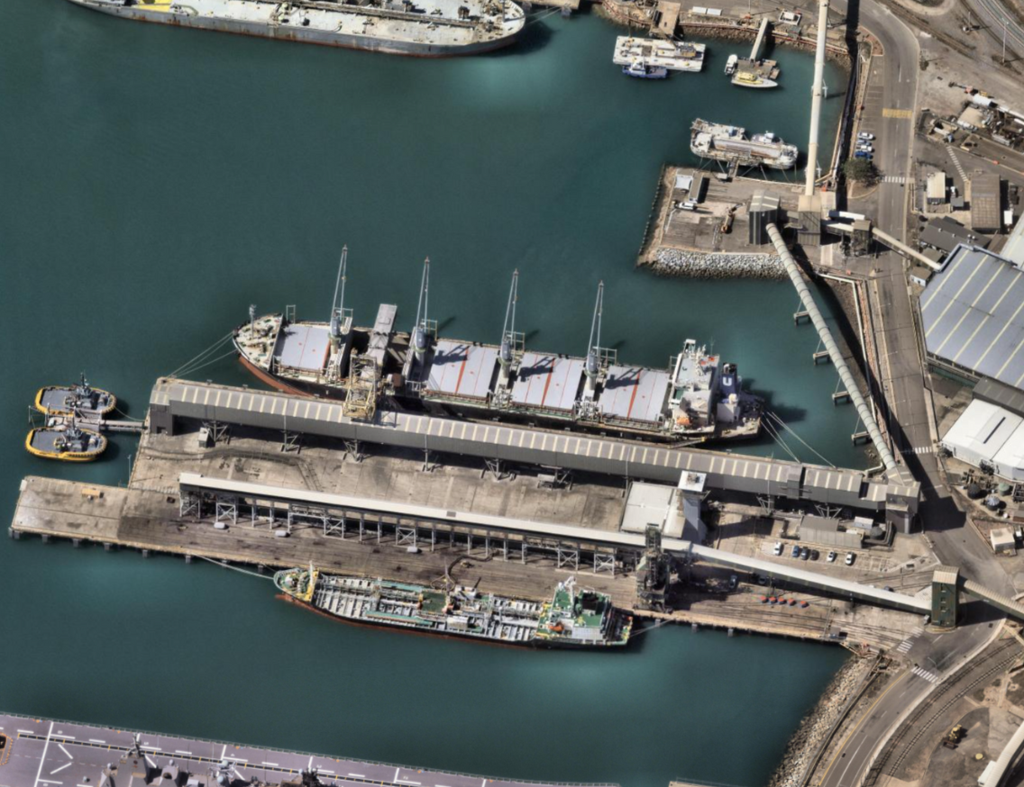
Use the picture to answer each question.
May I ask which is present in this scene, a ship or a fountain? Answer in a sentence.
The image shows a ship.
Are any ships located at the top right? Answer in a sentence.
Yes, at the top right there is a ship.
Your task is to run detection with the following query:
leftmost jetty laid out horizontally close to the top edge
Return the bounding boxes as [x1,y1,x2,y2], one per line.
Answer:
[521,0,580,20]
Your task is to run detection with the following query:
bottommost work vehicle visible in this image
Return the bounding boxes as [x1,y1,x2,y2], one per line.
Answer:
[944,722,963,748]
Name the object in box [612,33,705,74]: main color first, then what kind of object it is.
white ship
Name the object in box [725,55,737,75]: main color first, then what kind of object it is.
white boat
